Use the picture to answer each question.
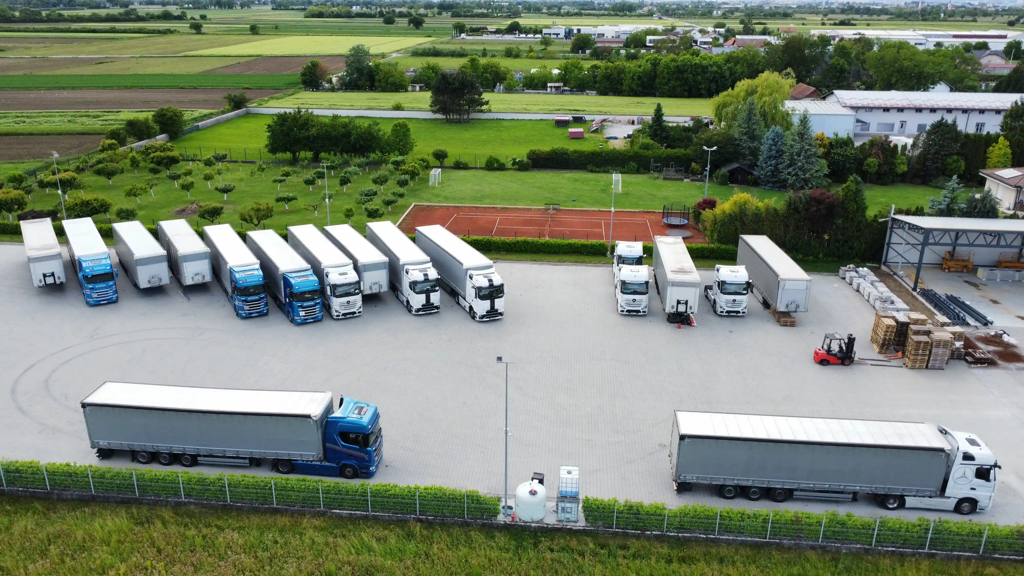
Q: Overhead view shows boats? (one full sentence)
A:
No, the photo shows no boat.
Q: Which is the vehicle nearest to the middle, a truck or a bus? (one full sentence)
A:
I'd identify the vehicle nearest to the middle as a truck.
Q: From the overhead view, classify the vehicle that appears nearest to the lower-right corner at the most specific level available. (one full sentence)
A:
The vehicle that appears nearest to the lower-right corner can be classified as a truck.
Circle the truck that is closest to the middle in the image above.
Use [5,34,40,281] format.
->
[454,264,508,318]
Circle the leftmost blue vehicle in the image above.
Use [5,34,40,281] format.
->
[77,252,118,305]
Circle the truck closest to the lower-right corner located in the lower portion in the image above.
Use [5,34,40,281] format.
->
[875,426,1009,514]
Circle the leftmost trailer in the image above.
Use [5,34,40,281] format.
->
[21,219,66,288]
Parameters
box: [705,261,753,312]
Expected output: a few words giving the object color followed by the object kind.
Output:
white truck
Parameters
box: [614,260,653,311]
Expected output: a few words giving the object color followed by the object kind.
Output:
white truck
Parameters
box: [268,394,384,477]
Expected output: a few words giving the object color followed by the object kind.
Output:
blue truck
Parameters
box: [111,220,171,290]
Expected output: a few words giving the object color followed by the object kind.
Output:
white trailer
